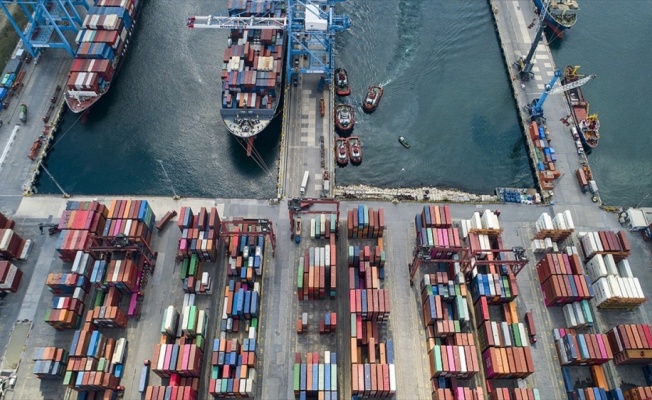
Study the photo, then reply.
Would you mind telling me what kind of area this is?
port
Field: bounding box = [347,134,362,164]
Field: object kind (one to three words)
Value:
boat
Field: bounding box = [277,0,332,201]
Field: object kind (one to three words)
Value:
pier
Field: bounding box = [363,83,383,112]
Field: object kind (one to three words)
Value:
boat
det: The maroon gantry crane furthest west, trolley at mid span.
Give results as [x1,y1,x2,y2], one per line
[79,236,153,276]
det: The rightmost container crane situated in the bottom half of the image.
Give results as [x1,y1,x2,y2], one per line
[459,248,528,287]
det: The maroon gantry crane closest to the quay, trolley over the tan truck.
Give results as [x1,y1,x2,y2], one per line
[288,202,340,240]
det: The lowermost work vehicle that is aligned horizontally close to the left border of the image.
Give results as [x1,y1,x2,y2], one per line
[29,225,62,238]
